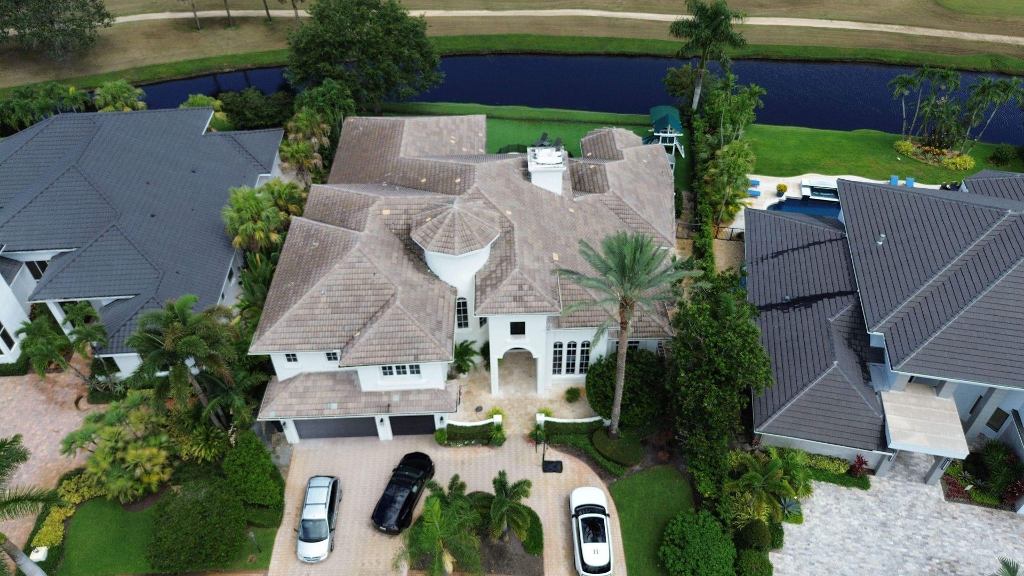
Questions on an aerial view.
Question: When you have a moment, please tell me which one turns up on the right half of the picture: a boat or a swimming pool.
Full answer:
You can see a swimming pool on the right half of the picture.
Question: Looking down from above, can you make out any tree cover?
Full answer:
Yes, there is tree cover in the image.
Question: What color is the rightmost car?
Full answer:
The color of the rightmost car is white.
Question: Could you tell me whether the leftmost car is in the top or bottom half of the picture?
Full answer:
The leftmost car is in the bottom half of the image.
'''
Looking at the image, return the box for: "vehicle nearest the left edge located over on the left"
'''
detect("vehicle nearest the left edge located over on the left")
[294,477,343,564]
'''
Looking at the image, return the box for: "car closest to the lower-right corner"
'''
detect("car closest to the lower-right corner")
[569,488,615,576]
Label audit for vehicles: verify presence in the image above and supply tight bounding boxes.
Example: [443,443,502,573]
[569,488,615,576]
[294,477,343,564]
[376,454,435,533]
